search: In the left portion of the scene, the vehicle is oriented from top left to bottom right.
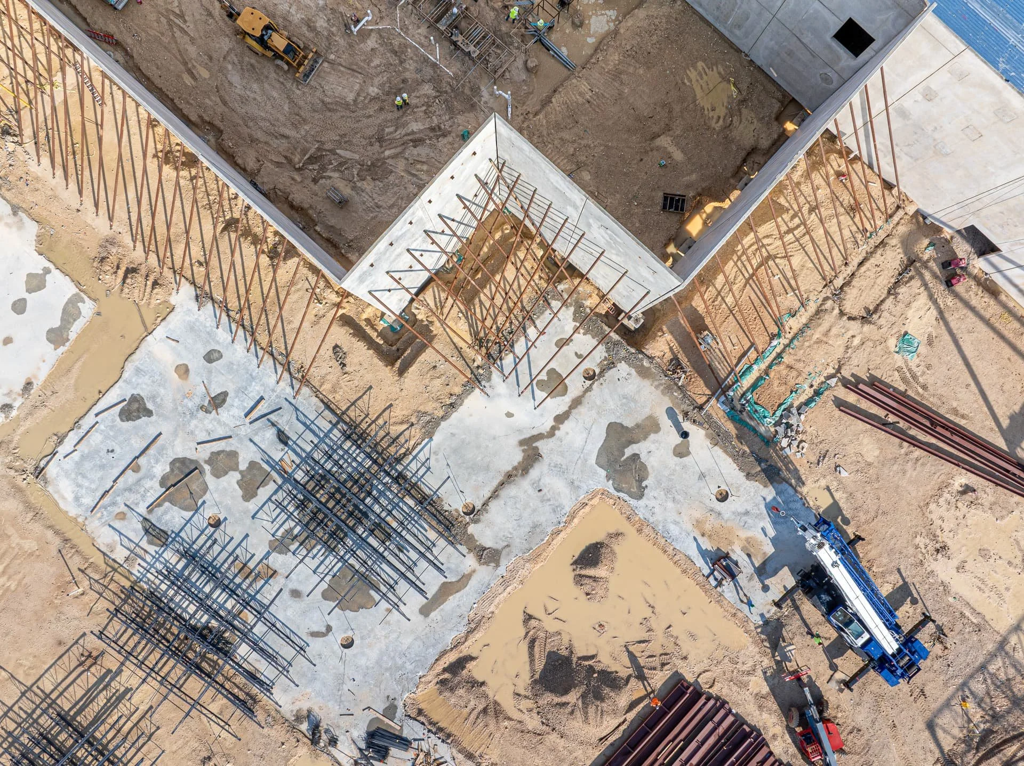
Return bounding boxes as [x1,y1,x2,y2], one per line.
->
[222,0,324,85]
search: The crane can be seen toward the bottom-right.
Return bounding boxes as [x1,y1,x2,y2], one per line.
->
[769,506,936,692]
